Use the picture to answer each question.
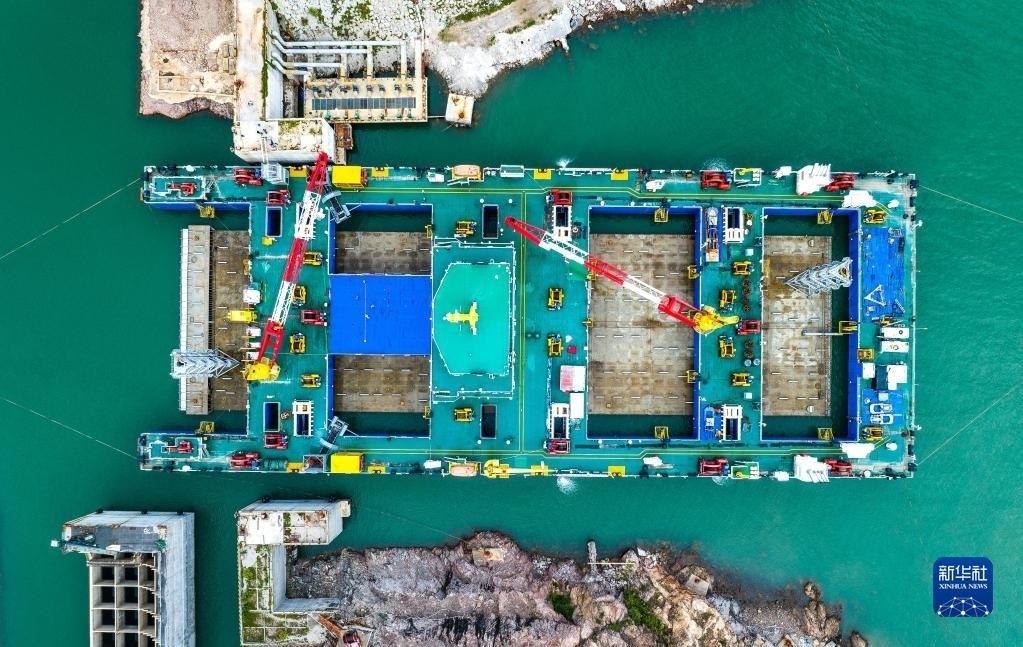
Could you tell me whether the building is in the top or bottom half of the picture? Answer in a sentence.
The top half of the photo is where the building is.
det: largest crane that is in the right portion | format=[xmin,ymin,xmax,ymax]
[505,216,739,337]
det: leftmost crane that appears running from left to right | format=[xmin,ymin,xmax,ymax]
[483,455,555,478]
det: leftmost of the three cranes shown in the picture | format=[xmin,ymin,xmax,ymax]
[241,151,331,386]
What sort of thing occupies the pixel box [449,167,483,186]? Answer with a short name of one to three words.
boat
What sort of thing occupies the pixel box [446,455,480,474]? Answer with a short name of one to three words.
boat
